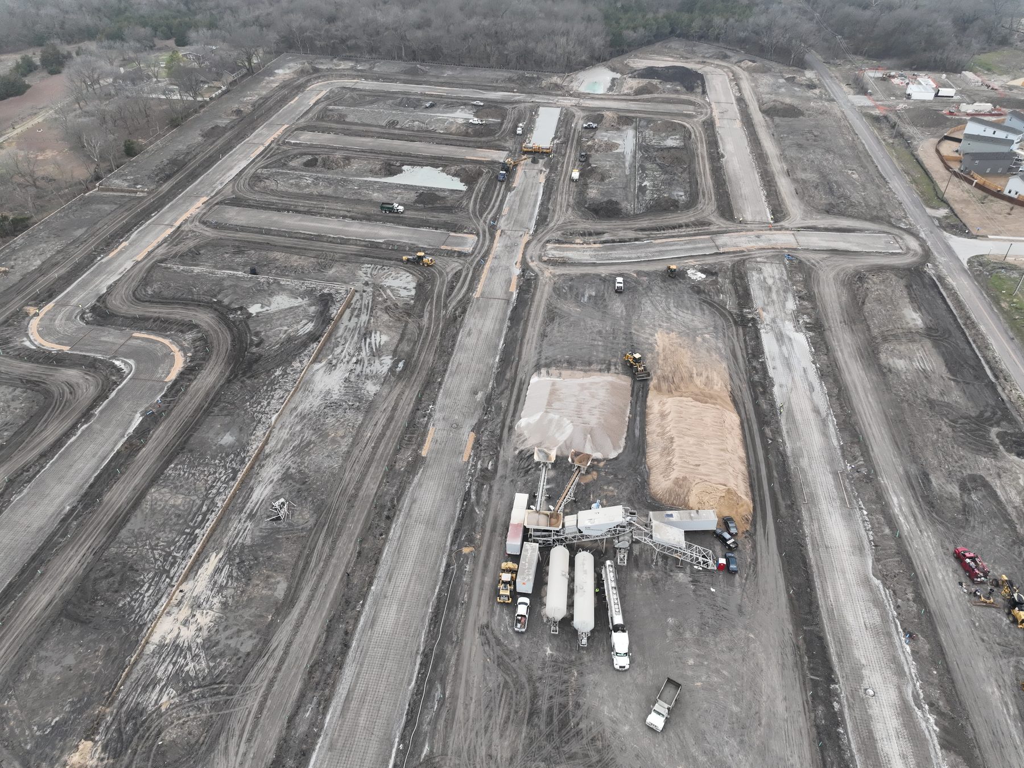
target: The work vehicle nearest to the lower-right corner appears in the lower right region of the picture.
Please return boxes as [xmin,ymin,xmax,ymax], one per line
[991,572,1024,628]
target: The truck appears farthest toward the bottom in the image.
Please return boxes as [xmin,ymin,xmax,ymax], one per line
[643,671,685,735]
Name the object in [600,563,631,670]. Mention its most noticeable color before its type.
white truck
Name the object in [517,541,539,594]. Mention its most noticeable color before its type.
white trailer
